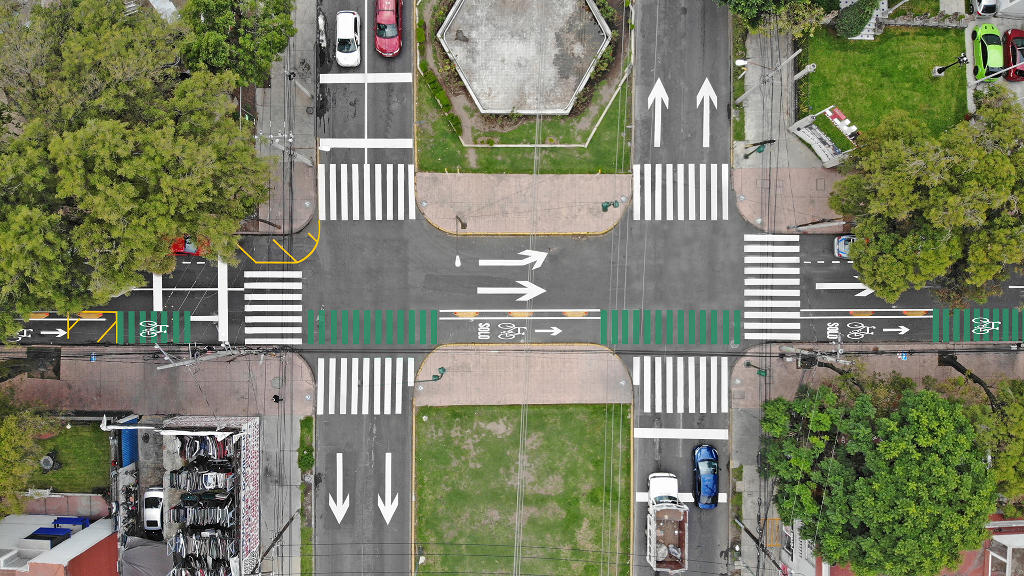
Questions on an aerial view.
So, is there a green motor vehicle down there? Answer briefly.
Yes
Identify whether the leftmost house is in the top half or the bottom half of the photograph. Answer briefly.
bottom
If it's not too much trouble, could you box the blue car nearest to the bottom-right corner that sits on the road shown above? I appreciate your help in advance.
[693,445,725,511]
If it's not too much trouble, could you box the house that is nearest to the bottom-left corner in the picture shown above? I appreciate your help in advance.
[0,518,116,576]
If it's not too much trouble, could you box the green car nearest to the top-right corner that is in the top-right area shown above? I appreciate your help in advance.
[972,20,1010,79]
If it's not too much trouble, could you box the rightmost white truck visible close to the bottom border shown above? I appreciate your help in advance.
[644,470,688,572]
